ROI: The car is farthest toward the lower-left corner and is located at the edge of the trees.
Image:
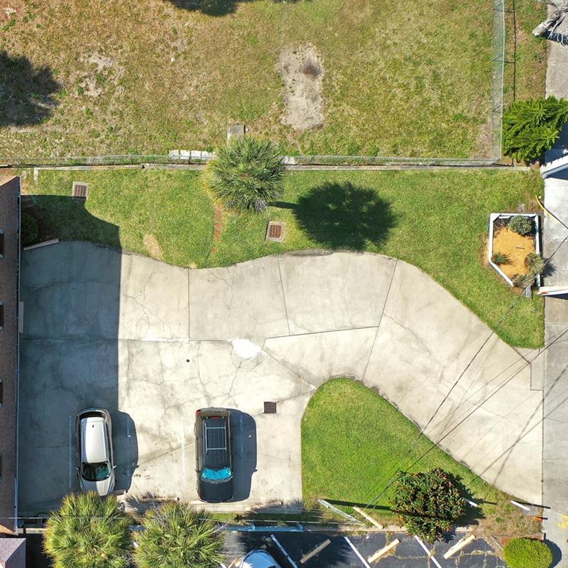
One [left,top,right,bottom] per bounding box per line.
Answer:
[74,409,117,494]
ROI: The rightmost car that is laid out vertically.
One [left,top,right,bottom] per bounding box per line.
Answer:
[191,404,239,501]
